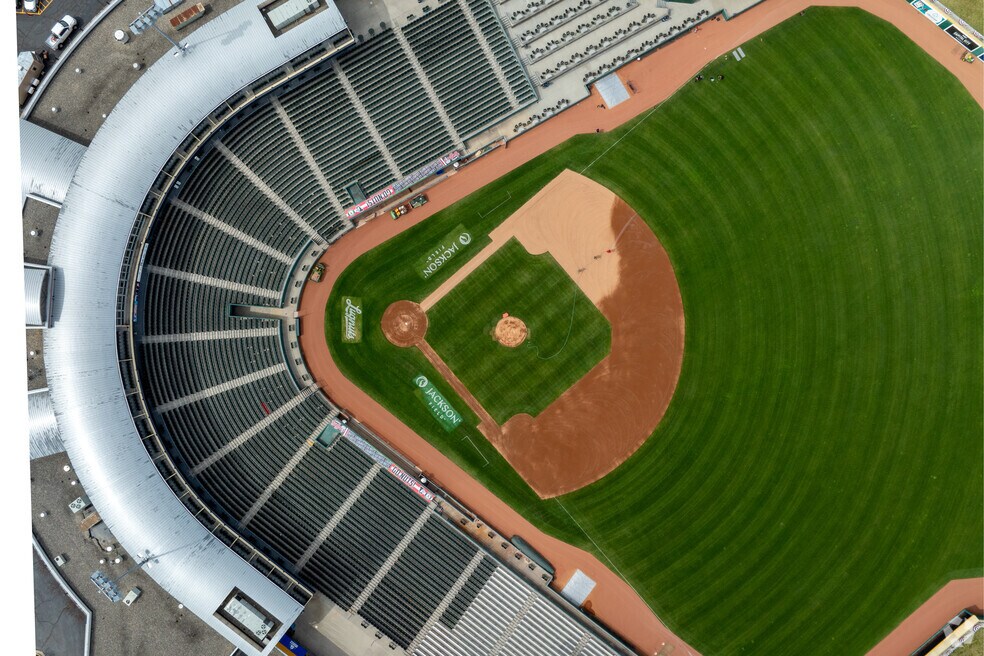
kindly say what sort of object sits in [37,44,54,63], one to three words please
work vehicle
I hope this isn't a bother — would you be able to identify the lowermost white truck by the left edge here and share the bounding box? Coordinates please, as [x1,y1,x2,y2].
[44,16,80,53]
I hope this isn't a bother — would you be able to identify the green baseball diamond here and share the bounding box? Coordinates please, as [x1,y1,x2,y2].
[300,0,984,656]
